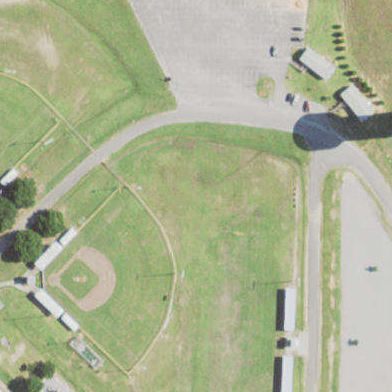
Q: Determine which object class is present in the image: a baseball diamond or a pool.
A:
baseball diamond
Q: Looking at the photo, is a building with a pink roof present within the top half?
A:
No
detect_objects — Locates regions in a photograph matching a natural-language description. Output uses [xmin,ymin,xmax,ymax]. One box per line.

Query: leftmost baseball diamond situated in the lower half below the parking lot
[44,184,176,372]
